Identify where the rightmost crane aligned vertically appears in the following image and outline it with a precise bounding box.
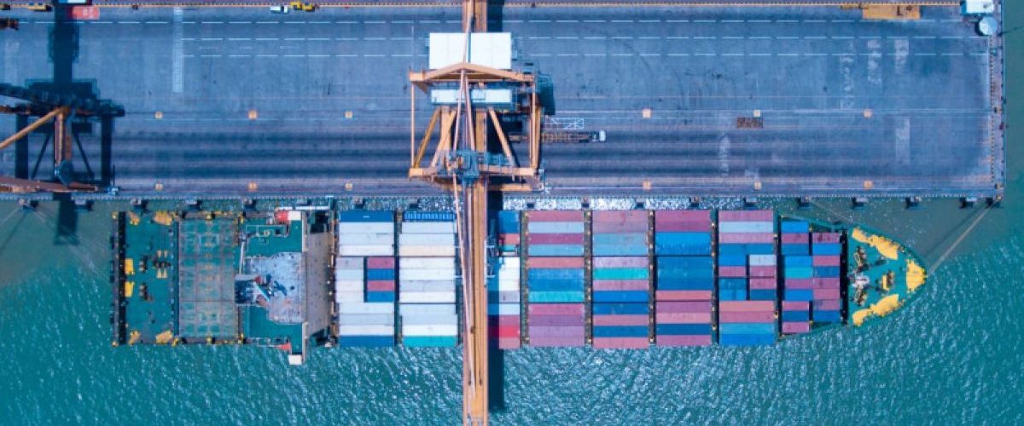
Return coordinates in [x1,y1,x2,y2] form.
[406,0,552,426]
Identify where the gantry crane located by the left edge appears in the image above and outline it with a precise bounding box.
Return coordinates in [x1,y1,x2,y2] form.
[0,81,116,194]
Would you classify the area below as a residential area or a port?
port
